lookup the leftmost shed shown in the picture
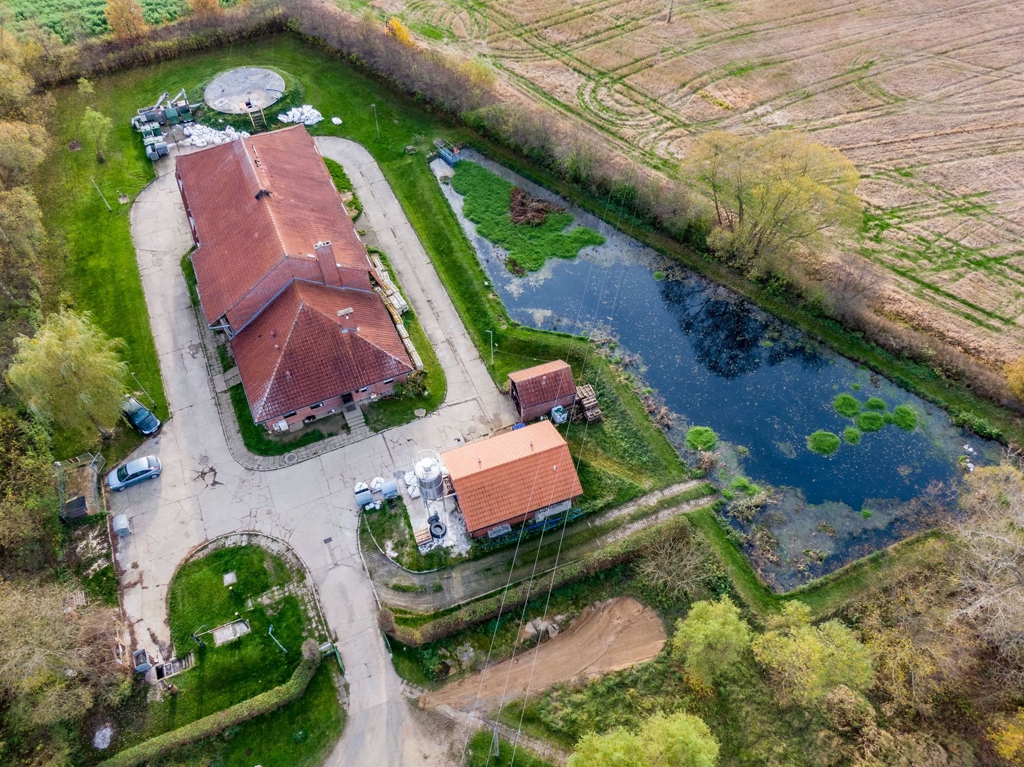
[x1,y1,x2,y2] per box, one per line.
[56,484,87,515]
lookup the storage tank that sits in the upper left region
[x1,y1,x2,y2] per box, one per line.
[201,68,287,130]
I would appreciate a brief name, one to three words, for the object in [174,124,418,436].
building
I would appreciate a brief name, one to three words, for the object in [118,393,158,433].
car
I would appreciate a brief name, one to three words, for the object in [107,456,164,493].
car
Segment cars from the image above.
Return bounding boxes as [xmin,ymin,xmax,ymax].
[118,393,158,433]
[107,456,164,493]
